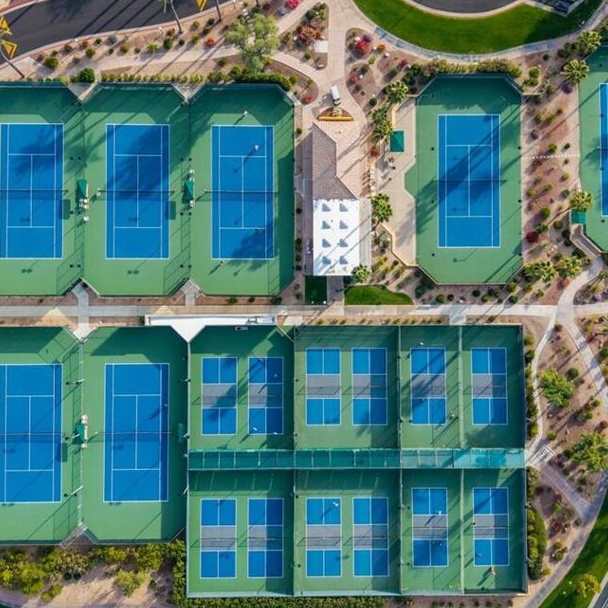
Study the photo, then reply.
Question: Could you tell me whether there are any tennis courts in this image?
Yes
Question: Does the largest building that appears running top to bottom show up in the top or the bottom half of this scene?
top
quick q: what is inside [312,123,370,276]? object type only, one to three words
building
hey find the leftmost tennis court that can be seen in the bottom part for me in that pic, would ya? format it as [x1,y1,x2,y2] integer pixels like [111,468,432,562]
[0,328,81,541]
